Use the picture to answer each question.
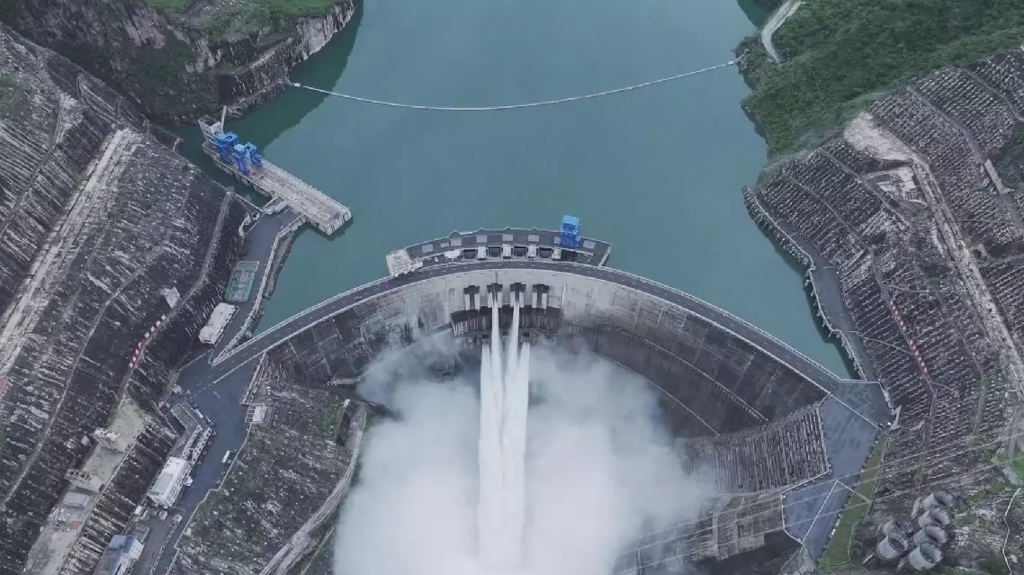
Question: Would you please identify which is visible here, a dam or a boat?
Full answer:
The one in the frame is a dam.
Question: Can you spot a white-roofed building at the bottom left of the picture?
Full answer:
Yes, looking at the bottom left of the picture, one can make out a white-roofed building.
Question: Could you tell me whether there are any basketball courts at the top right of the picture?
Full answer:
No, the scene shows no basketball court at the top right of the picture.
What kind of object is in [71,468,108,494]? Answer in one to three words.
building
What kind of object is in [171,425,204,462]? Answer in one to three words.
building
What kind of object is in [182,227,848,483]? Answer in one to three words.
dam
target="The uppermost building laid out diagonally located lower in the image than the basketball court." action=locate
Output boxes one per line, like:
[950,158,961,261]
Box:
[199,303,238,345]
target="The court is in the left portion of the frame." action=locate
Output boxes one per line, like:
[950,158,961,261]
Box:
[225,261,258,301]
